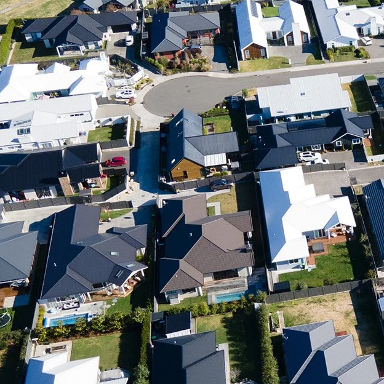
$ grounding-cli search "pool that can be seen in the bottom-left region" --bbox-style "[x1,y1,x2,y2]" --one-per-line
[44,306,93,332]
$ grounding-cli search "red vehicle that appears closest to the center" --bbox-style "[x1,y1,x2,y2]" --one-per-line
[105,155,129,170]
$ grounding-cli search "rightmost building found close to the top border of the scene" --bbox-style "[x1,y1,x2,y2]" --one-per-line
[309,0,384,53]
